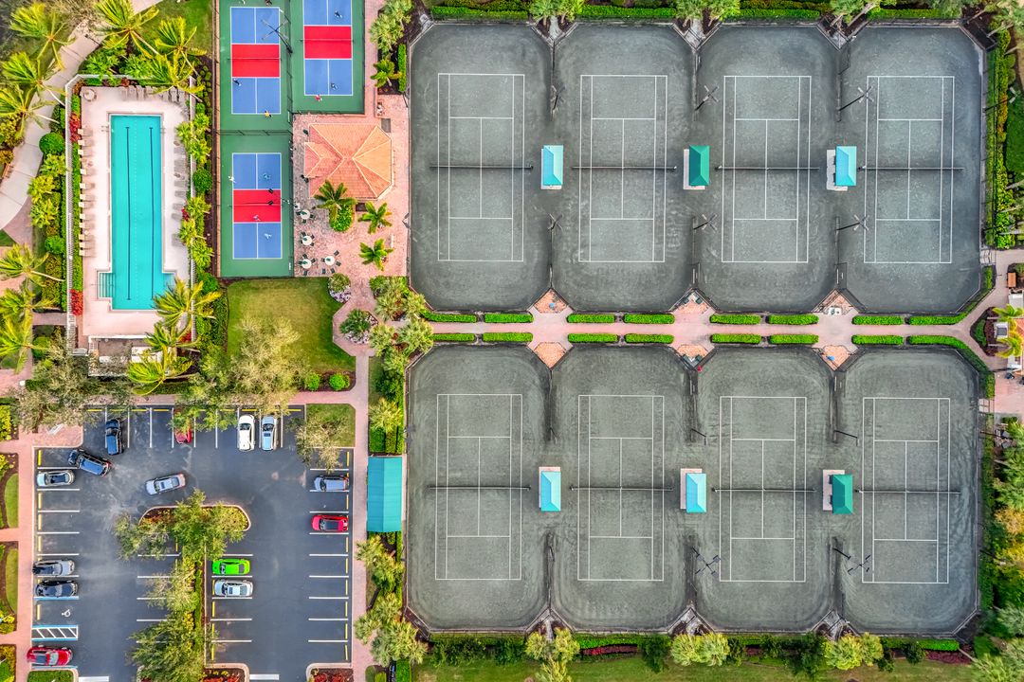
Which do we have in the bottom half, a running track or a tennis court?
tennis court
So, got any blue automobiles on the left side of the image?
Yes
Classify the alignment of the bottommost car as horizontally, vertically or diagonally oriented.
horizontally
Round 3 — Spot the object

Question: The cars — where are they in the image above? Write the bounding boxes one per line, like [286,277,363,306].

[38,470,77,488]
[237,414,256,451]
[259,414,278,451]
[37,579,78,598]
[314,475,349,492]
[71,449,112,476]
[312,514,350,532]
[103,419,125,456]
[214,558,251,577]
[33,558,75,577]
[147,473,187,495]
[27,647,72,668]
[215,579,254,598]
